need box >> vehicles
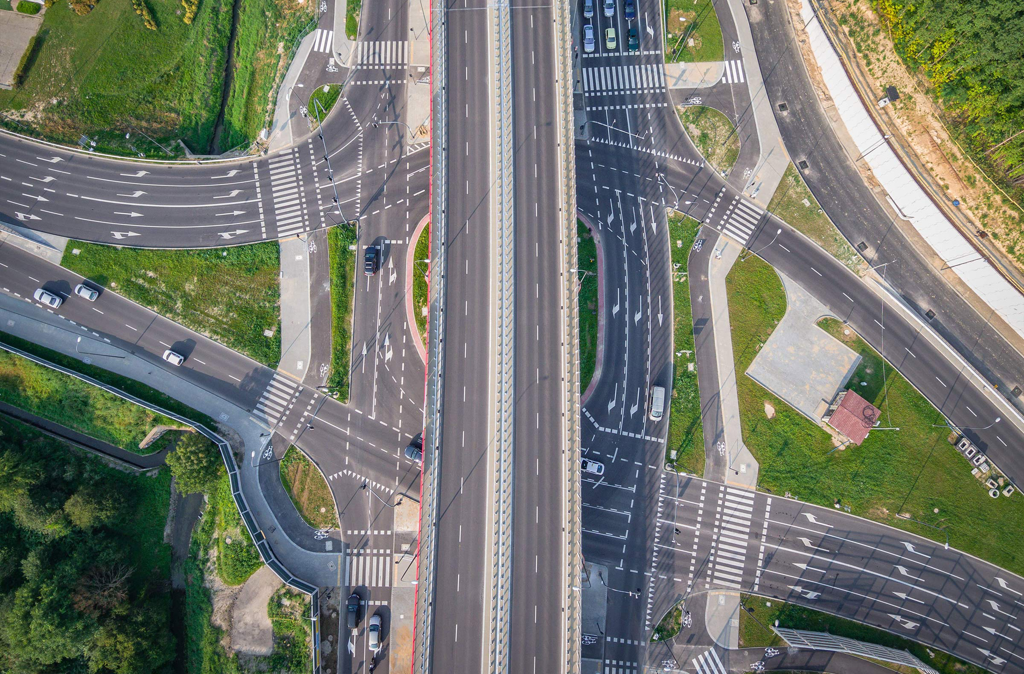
[603,0,616,18]
[367,614,383,650]
[582,458,605,475]
[623,0,636,22]
[604,27,618,50]
[582,0,595,20]
[626,27,640,52]
[345,593,362,629]
[648,385,665,421]
[582,25,596,54]
[34,289,64,309]
[75,285,100,301]
[163,350,186,367]
[363,247,378,277]
[405,445,422,462]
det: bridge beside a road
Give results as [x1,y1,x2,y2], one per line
[411,0,583,674]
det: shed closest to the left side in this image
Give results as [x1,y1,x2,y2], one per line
[822,389,881,445]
